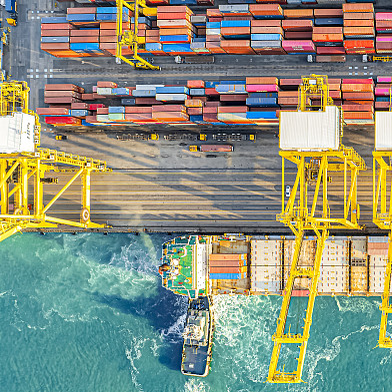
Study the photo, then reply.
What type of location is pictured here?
port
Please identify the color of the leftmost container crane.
yellow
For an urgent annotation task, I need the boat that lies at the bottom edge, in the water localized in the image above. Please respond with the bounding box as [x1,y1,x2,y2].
[180,298,212,377]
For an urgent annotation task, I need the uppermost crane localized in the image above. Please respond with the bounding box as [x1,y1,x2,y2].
[114,0,160,71]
